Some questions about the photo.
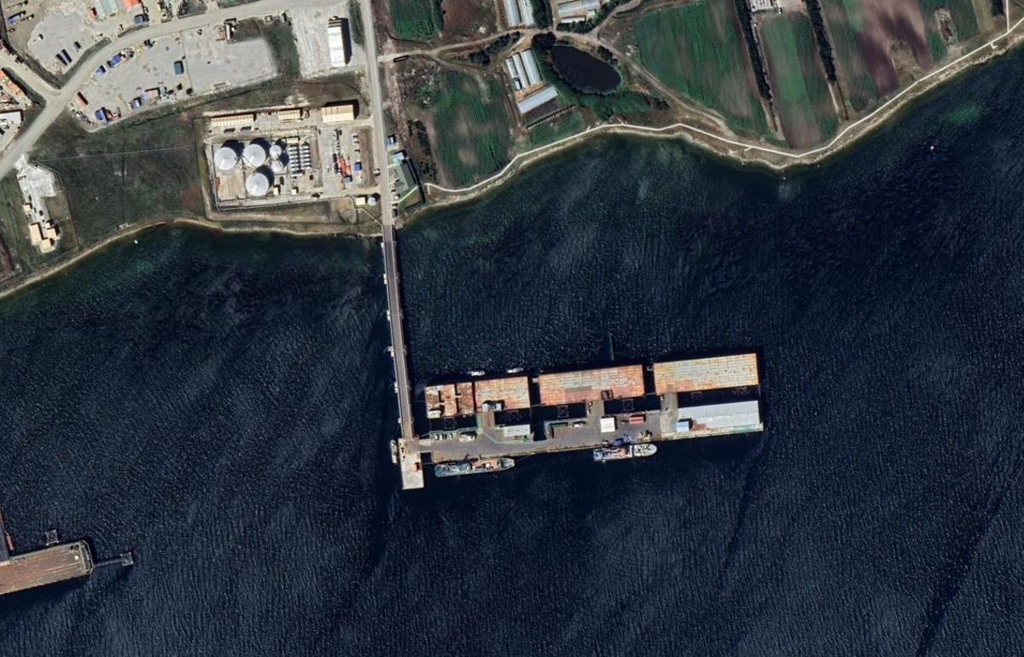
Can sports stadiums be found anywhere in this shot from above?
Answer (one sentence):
No, no sports stadium is visible in the scene.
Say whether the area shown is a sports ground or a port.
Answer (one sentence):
This looks like a port.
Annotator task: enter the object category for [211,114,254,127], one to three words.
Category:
building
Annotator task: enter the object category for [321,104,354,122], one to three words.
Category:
building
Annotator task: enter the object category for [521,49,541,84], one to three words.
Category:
greenhouse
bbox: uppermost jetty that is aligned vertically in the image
[382,224,416,439]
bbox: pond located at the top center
[550,44,623,93]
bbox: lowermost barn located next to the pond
[517,85,558,113]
